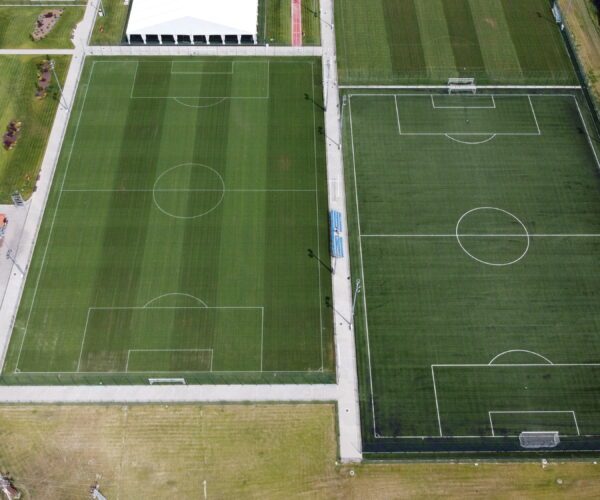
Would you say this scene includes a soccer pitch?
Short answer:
Yes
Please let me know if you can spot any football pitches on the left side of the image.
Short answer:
Yes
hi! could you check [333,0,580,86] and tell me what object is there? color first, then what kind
green soccer field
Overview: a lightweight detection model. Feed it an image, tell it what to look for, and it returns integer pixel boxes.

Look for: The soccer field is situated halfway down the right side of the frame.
[338,87,600,452]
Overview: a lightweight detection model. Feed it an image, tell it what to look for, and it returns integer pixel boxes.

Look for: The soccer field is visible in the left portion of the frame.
[0,55,336,386]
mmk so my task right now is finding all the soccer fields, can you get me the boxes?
[333,0,580,86]
[338,87,600,452]
[0,55,336,386]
